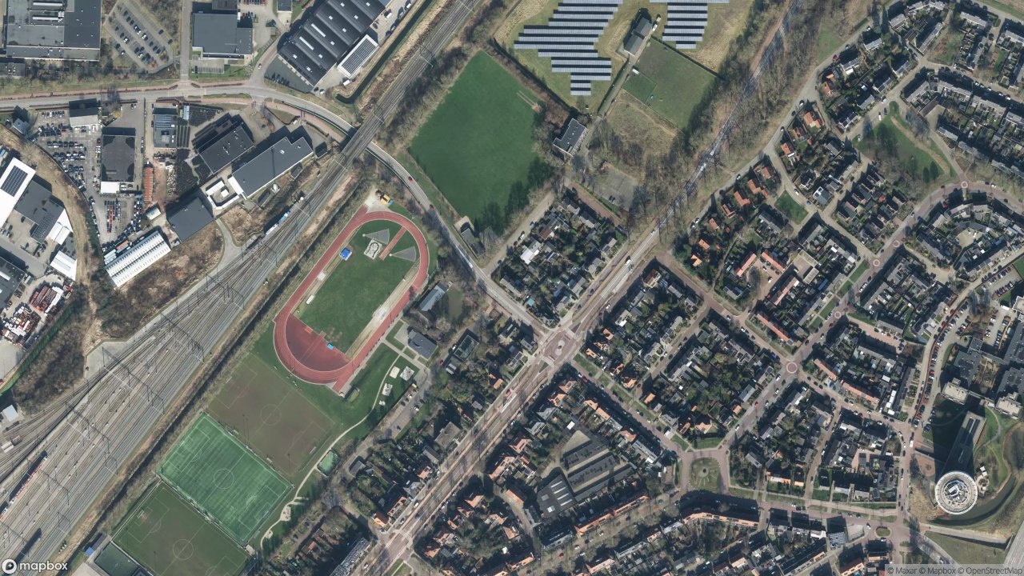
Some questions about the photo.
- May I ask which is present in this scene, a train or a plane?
train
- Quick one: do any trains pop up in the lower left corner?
Yes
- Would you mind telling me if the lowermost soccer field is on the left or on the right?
left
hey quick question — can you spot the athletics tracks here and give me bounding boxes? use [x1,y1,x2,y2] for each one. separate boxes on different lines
[272,190,430,386]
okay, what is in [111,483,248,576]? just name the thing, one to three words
soccer field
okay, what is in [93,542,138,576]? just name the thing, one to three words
sports court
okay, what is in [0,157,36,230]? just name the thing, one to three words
building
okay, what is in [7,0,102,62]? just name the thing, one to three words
building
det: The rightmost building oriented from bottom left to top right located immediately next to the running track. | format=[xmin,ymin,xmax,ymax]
[419,283,448,312]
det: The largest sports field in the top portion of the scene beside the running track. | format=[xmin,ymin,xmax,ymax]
[408,51,546,237]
